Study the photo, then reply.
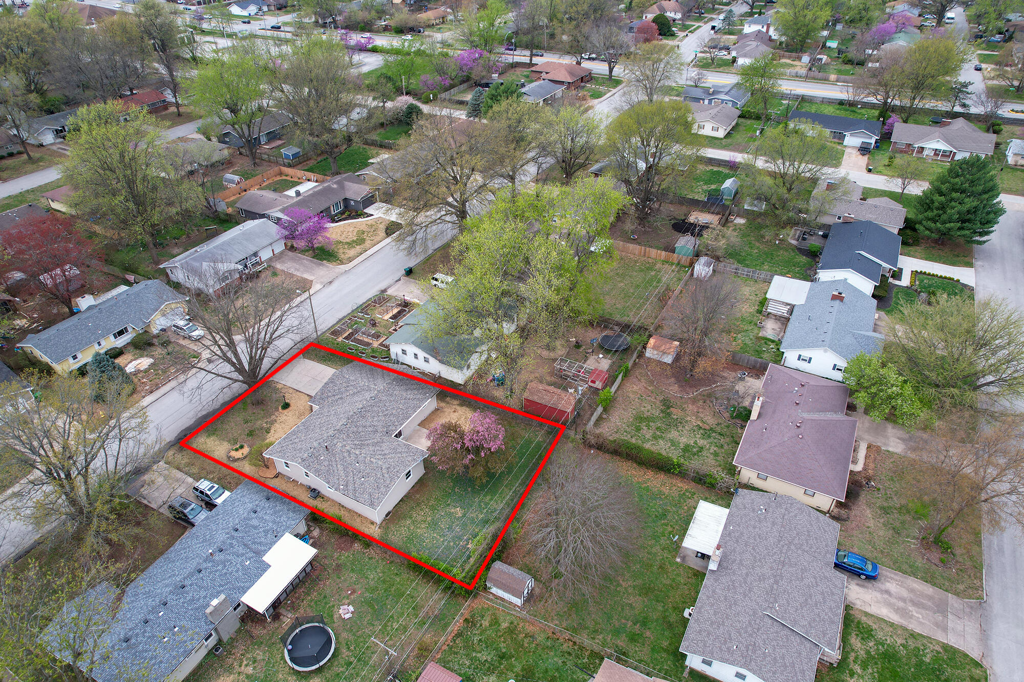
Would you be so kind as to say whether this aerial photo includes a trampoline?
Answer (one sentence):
Yes, I can see a trampoline in this picture.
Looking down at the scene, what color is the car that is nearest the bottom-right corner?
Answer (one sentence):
The car that is nearest the bottom-right corner is blue.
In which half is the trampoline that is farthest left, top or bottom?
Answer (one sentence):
It is in the bottom half that the trampoline that is farthest left appears.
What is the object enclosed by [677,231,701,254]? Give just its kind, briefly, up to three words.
shed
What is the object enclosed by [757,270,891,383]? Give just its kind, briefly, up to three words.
house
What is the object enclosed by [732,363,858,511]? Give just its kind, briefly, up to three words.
house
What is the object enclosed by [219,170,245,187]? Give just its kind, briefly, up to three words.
shed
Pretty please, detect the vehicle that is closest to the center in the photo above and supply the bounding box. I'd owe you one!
[429,271,457,288]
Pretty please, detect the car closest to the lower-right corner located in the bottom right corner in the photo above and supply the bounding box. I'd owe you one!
[841,549,887,586]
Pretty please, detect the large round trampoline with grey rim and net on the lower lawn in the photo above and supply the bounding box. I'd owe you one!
[277,609,333,673]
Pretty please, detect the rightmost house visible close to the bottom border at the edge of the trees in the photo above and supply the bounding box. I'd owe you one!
[678,481,848,682]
